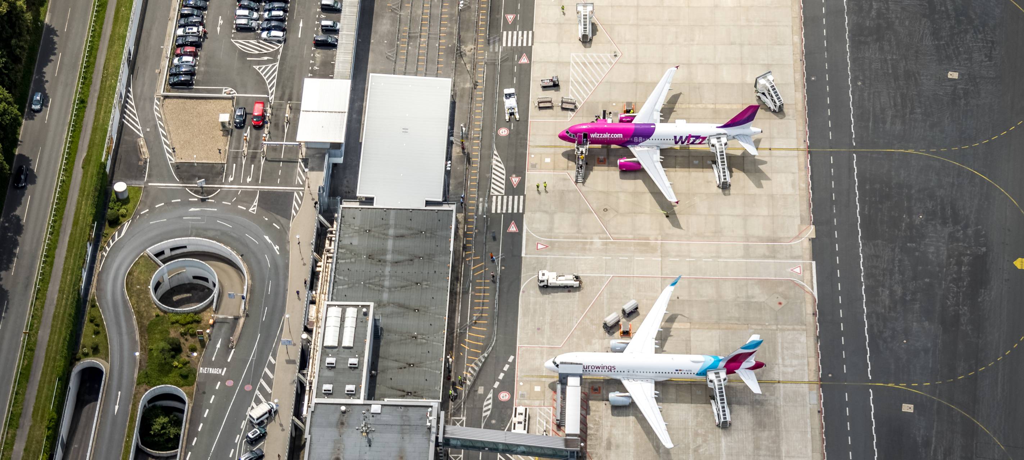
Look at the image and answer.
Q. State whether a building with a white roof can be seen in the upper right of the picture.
No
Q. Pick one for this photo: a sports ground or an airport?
airport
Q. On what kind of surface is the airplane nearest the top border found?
apron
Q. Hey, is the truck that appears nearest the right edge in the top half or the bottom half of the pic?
top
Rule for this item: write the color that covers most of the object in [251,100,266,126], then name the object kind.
red vehicle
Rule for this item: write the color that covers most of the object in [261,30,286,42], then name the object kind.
white vehicle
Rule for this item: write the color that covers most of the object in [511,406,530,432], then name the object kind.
white work vehicle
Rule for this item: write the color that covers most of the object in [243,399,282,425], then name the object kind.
white vehicle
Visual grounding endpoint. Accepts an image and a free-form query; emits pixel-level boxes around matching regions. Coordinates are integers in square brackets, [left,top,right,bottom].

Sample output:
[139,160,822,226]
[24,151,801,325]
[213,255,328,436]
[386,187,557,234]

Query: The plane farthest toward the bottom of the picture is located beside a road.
[545,273,766,448]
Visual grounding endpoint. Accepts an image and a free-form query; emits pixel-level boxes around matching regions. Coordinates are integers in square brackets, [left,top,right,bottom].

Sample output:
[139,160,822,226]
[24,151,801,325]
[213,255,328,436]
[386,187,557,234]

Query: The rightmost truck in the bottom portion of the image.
[705,366,734,427]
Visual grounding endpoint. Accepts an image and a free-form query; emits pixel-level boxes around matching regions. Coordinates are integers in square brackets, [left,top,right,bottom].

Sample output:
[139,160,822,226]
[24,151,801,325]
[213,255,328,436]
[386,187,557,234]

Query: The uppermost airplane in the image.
[559,61,763,202]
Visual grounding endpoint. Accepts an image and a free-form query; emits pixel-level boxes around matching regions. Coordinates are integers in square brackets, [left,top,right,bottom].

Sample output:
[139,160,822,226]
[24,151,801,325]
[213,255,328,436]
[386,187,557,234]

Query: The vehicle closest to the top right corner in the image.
[751,67,786,114]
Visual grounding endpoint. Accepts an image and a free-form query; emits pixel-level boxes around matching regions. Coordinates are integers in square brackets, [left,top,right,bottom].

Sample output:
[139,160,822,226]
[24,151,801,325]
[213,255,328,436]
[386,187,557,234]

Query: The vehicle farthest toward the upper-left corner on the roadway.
[30,91,45,112]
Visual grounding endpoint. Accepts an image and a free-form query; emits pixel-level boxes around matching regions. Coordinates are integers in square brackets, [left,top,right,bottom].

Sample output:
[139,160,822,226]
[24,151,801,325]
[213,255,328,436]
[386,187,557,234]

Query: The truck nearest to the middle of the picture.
[535,269,587,294]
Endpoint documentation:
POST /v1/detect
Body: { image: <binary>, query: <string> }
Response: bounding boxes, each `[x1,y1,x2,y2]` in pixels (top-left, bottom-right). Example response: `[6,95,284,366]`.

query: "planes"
[559,61,763,202]
[545,273,766,448]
